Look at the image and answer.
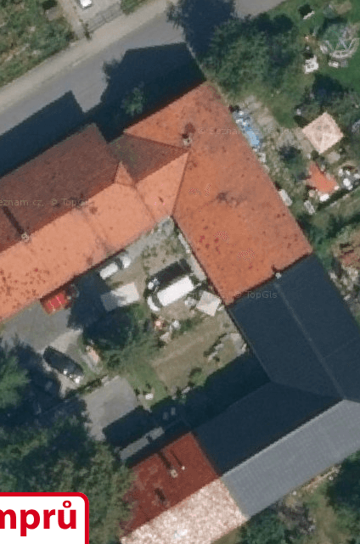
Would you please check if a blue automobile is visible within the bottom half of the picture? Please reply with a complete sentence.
No, no blue automobile can be made out within the bottom half of the picture.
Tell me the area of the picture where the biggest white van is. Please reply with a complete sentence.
Look in the center portion of the view to spot the biggest white van.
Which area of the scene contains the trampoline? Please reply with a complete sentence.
The trampoline is in the top right part of the image.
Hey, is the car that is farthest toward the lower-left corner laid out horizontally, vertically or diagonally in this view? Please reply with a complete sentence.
What the image shows is the car that is farthest toward the lower-left corner lying diagonally.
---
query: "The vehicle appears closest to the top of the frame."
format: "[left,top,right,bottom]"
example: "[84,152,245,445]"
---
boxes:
[97,251,135,282]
